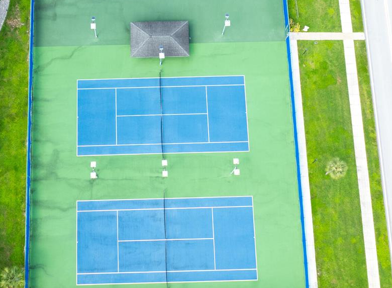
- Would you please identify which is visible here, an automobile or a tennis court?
tennis court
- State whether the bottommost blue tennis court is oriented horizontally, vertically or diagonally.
horizontally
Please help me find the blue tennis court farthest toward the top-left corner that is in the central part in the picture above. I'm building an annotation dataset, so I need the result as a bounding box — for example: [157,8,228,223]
[76,75,249,156]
